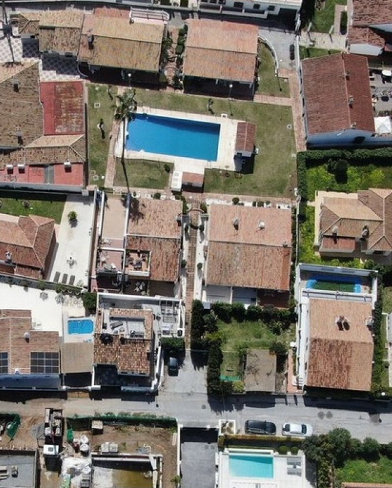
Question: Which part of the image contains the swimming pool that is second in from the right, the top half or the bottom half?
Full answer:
The bottom half of the photo is where the swimming pool that is second in from the right is.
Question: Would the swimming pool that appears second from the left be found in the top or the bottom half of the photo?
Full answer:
Seen from above, the swimming pool that appears second from the left lies in the top half of the view.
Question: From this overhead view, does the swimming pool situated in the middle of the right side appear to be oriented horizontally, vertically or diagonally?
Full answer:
The swimming pool situated in the middle of the right side is oriented horizontally.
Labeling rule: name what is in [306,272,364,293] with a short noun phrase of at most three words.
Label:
swimming pool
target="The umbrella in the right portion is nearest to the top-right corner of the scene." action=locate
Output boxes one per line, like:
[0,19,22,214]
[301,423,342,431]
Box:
[380,65,392,82]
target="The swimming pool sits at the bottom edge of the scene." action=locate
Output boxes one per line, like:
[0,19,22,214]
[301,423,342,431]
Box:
[229,453,276,480]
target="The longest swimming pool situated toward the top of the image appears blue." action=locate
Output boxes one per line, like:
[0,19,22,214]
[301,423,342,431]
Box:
[124,111,223,163]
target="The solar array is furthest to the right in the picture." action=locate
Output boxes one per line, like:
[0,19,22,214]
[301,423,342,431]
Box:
[31,352,59,373]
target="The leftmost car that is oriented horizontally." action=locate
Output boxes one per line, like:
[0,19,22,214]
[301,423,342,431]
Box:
[245,420,277,436]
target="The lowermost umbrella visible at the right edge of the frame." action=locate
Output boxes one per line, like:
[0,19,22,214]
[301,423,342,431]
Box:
[375,116,392,133]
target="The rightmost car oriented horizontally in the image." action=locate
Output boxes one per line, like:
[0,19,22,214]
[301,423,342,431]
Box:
[283,422,314,438]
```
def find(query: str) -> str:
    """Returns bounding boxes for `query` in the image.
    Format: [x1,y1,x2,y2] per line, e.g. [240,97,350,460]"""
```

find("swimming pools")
[124,111,223,163]
[66,317,96,335]
[229,453,276,480]
[306,272,364,293]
